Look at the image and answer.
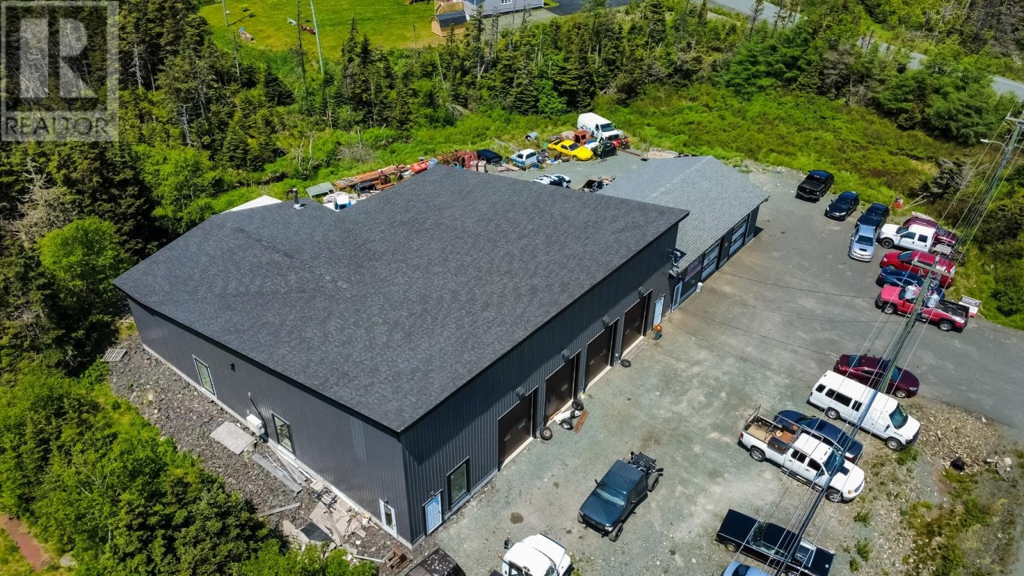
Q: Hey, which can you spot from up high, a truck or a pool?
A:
truck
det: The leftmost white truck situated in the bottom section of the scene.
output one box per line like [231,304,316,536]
[487,538,575,576]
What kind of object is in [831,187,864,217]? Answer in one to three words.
car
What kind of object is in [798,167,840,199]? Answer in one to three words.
truck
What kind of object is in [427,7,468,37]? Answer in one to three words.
shed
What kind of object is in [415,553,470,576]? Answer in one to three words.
car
